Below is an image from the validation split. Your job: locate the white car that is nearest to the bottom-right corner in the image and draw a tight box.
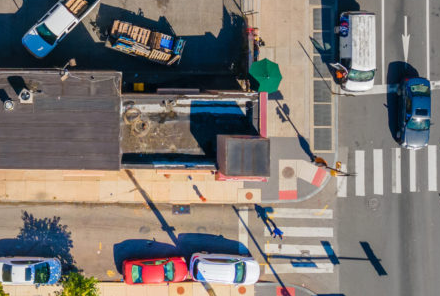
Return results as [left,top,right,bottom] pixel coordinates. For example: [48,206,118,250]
[188,251,259,287]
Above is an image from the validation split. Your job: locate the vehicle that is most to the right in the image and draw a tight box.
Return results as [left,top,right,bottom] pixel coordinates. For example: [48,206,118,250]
[395,77,434,148]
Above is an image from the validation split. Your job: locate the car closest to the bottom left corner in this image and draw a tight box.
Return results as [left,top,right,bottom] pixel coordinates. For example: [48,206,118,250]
[0,255,62,288]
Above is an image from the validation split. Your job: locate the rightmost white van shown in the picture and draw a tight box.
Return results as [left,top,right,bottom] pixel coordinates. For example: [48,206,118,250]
[327,10,378,92]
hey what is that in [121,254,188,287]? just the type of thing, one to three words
car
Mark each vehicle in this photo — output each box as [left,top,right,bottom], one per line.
[121,254,188,287]
[395,77,434,148]
[0,255,62,288]
[22,0,99,58]
[188,251,259,287]
[327,10,378,92]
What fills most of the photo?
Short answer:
paved ground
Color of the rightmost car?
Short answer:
blue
